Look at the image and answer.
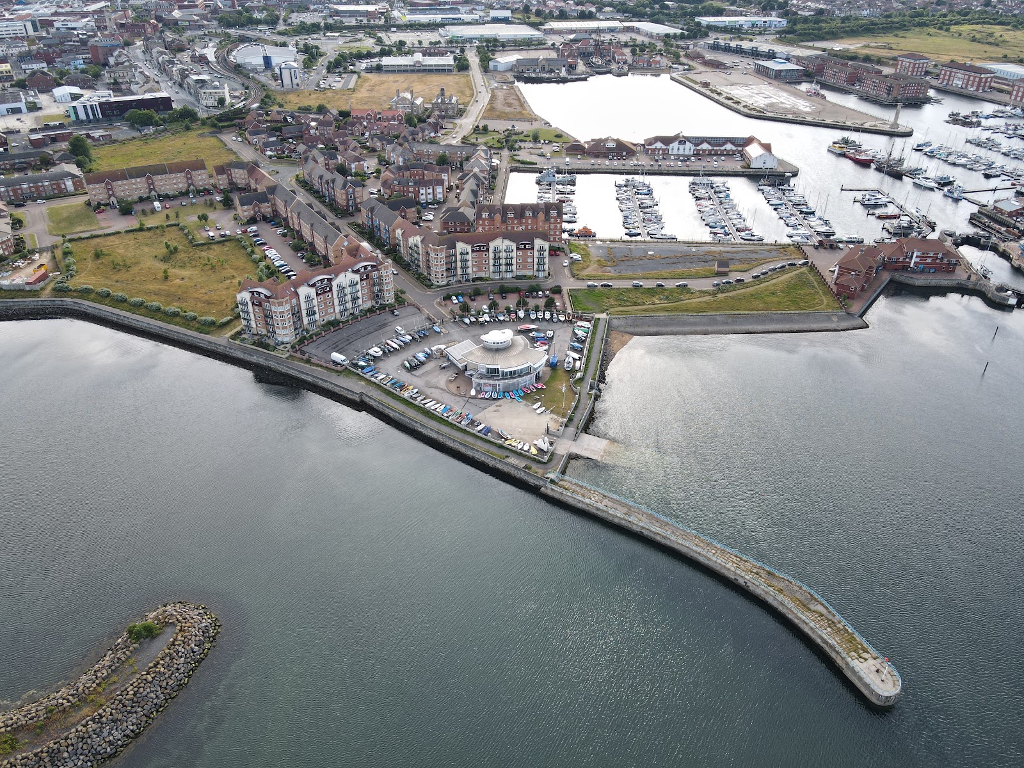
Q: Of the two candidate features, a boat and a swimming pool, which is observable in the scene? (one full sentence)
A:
Visible in the photo is a boat.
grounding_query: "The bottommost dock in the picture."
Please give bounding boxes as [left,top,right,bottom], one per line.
[540,475,900,709]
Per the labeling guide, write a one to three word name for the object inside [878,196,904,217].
boat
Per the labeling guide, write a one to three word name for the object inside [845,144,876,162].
boat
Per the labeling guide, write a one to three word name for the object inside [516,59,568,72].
building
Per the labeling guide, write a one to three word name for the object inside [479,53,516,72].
shed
